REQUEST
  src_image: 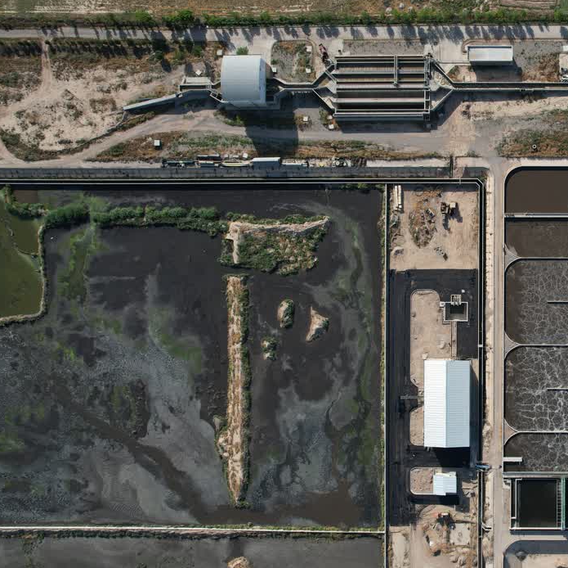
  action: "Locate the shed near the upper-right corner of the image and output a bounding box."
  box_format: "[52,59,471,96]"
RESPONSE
[468,45,514,65]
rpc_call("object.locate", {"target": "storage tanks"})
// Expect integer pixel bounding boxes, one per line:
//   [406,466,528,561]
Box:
[334,55,431,119]
[510,476,568,532]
